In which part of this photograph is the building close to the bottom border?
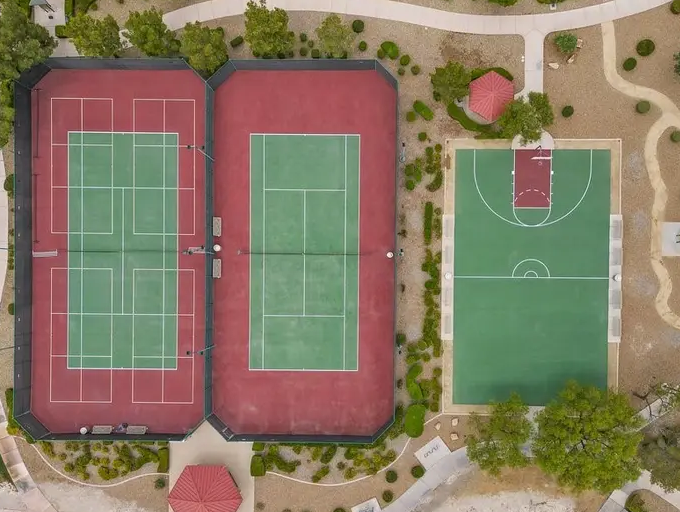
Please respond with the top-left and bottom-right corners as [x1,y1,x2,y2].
[167,462,243,512]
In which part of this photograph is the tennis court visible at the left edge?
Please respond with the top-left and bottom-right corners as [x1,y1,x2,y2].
[31,69,206,434]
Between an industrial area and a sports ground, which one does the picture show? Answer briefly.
sports ground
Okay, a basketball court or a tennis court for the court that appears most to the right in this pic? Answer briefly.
basketball court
